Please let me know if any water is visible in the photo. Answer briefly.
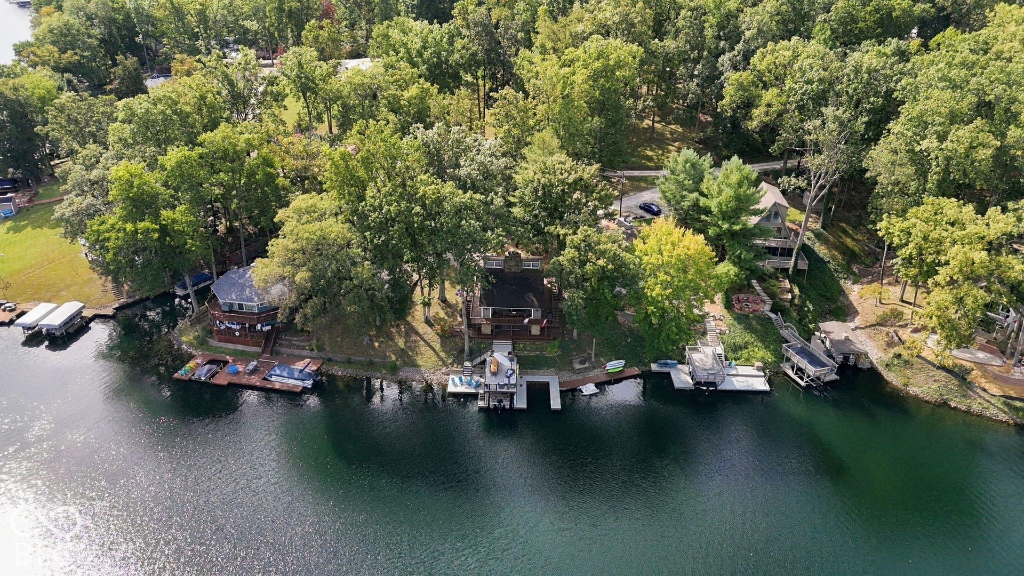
Yes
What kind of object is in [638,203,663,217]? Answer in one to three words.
car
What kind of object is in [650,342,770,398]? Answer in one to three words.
pier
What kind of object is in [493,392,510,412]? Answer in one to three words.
boat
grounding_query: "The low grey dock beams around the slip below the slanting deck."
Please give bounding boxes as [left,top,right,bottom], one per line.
[774,341,838,392]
